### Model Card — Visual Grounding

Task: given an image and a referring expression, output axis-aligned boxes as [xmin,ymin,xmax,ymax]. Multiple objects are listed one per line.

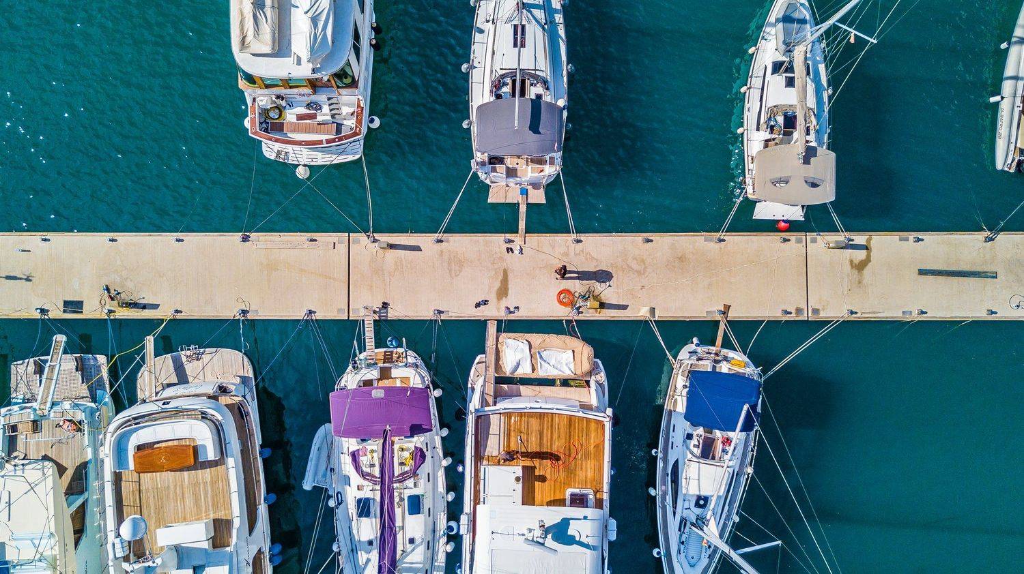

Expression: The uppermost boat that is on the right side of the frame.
[773,0,816,59]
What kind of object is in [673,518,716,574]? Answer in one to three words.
boat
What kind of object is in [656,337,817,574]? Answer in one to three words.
boat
